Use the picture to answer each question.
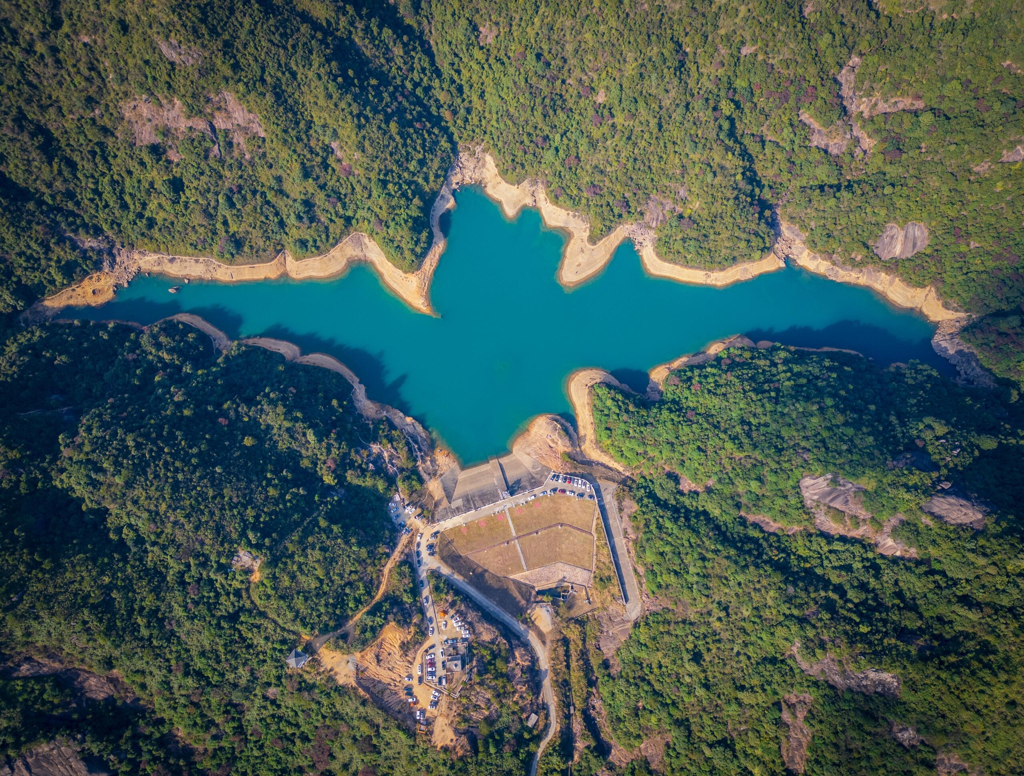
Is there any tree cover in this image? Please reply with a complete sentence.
Yes, tree cover can be seen from above here.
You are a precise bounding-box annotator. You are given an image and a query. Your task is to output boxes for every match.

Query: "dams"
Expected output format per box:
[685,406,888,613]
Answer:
[423,450,598,587]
